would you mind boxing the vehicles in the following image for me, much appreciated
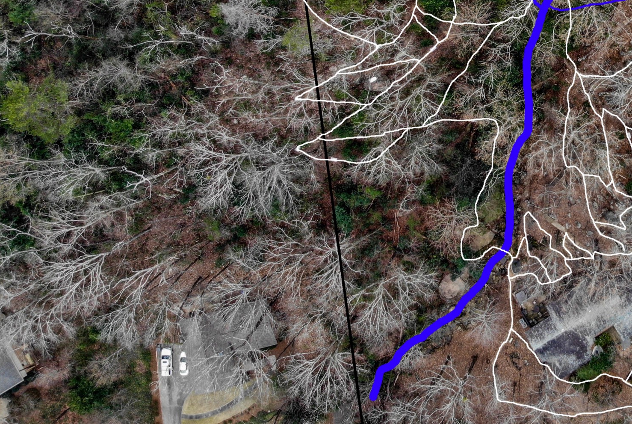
[160,347,174,377]
[178,351,190,376]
